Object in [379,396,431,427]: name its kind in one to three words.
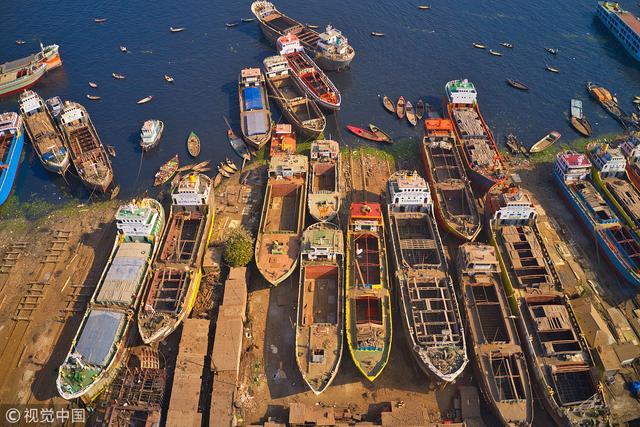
shed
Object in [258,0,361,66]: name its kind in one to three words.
ship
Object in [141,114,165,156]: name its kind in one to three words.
boat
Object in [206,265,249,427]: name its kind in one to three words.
shed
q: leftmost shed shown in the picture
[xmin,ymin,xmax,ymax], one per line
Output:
[162,318,212,427]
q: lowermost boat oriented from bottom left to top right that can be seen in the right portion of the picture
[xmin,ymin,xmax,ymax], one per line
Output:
[530,129,564,152]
